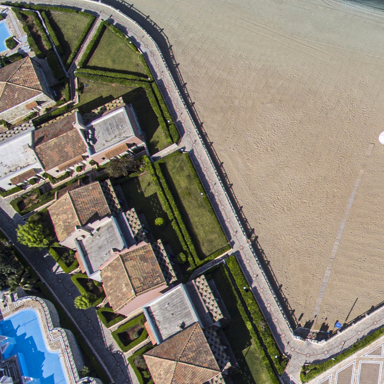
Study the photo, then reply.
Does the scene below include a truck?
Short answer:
No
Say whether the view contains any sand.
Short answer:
Yes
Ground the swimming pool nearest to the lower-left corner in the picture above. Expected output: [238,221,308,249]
[0,307,70,384]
